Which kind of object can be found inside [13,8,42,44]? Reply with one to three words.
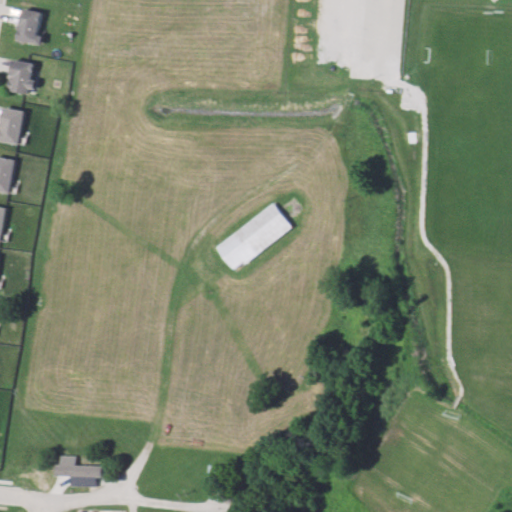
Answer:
house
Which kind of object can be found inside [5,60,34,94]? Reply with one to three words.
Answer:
house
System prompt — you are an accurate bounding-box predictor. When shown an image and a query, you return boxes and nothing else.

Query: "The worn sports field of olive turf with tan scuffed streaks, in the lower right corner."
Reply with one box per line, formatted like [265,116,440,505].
[357,390,512,512]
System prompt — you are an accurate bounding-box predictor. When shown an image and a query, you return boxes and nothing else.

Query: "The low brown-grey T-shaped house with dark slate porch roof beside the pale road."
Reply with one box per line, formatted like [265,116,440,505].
[53,455,101,488]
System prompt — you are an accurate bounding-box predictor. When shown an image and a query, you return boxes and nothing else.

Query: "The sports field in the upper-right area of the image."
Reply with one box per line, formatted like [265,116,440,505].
[428,27,491,85]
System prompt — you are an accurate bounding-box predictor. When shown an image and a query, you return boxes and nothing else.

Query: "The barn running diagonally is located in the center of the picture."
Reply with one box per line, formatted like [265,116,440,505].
[216,202,293,271]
